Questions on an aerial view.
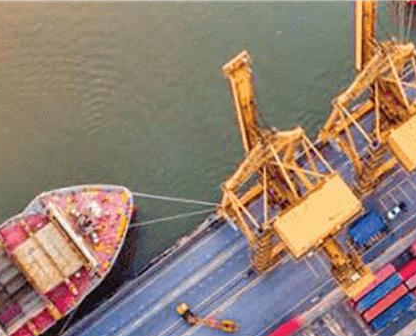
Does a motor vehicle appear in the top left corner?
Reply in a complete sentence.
No, in the top left corner there is no motor vehicle.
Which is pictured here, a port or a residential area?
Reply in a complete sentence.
This looks like a port.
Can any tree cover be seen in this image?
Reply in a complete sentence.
No, there is no tree cover in the image.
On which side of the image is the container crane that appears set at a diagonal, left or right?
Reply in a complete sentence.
The container crane that appears set at a diagonal is on the right side of the image.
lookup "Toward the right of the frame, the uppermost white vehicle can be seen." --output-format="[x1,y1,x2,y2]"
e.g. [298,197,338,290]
[385,205,401,220]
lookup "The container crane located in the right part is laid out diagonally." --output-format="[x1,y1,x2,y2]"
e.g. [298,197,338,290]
[211,37,381,299]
